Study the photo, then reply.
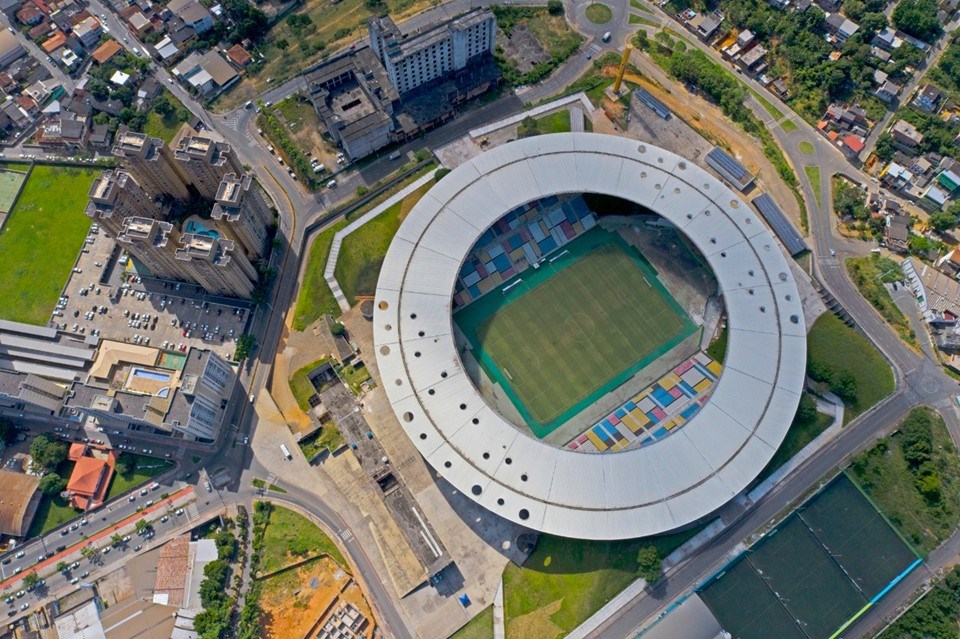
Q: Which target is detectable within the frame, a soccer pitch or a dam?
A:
soccer pitch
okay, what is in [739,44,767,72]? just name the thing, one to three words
house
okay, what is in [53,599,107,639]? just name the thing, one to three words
shed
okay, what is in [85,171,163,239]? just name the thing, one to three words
building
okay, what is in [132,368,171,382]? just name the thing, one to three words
swimming pool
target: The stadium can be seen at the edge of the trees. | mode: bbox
[374,129,806,539]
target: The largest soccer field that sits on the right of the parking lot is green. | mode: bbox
[451,224,701,441]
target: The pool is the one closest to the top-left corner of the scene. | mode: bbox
[187,213,238,250]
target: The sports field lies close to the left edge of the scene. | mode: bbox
[0,170,23,212]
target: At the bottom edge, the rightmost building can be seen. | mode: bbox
[636,589,732,639]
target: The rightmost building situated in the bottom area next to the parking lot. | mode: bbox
[317,379,453,576]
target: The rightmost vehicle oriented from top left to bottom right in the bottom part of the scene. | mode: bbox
[278,442,292,460]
